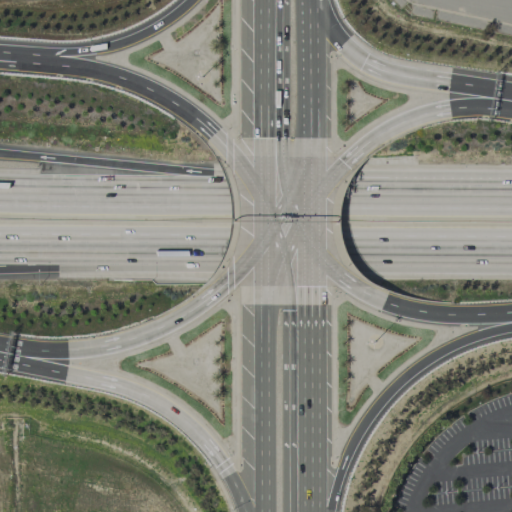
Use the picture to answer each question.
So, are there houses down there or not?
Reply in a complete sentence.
No, no house is visible in the view.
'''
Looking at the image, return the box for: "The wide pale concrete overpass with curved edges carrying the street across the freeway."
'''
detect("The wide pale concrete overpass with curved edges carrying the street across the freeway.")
[202,129,384,310]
